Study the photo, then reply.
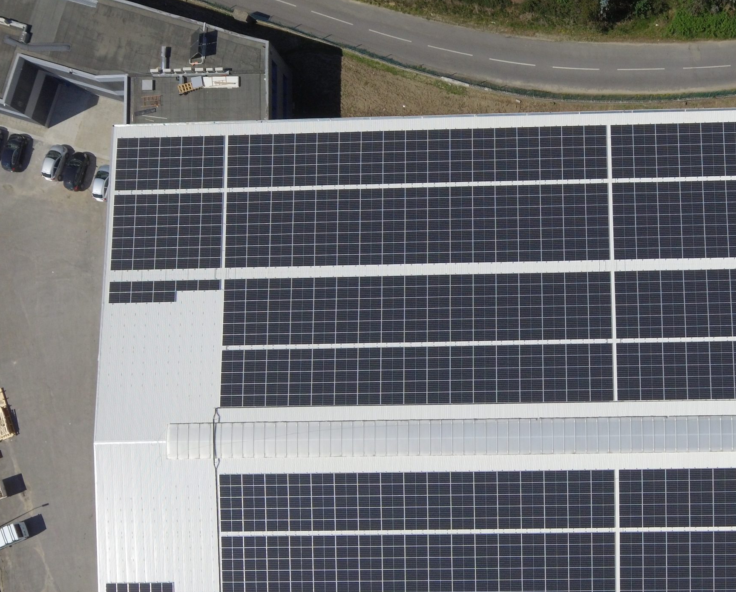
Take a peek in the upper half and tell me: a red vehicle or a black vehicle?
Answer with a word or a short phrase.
black vehicle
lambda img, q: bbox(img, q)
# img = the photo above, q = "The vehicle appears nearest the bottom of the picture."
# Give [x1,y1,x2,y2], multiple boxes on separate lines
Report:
[0,523,30,549]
